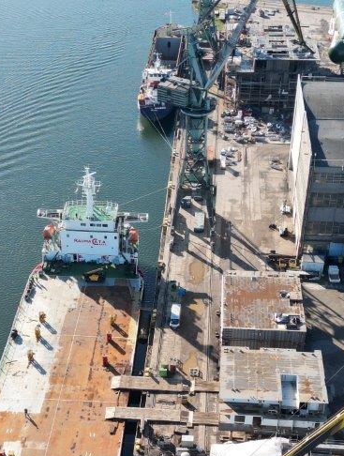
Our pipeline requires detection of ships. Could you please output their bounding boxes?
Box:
[0,163,149,456]
[140,0,181,128]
